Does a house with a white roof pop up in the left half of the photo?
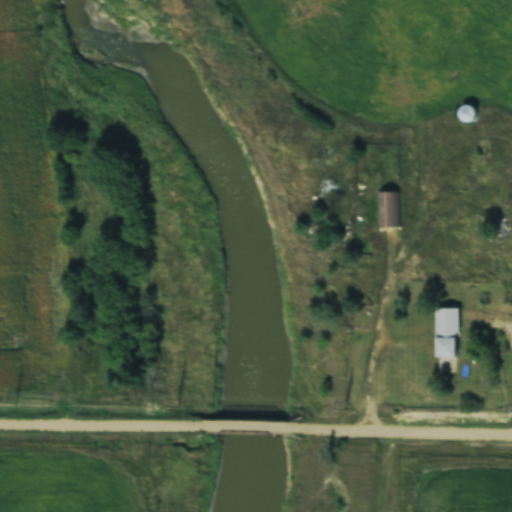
No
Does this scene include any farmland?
Yes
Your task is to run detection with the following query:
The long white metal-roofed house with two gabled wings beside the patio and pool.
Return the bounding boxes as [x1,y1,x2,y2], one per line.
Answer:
[434,308,460,358]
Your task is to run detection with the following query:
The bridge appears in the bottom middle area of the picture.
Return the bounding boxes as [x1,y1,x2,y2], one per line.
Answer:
[203,419,290,436]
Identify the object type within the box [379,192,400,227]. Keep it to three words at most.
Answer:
barn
